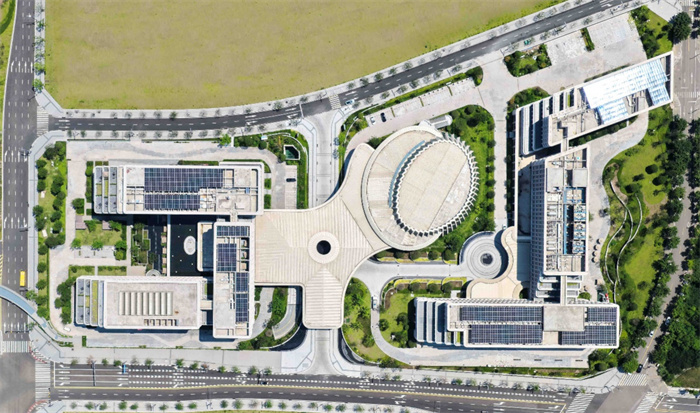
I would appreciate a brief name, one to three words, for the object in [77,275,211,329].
building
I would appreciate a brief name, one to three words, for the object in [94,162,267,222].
building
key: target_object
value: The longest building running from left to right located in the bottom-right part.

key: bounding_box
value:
[414,295,619,348]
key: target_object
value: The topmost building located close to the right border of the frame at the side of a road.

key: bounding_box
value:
[510,52,672,156]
